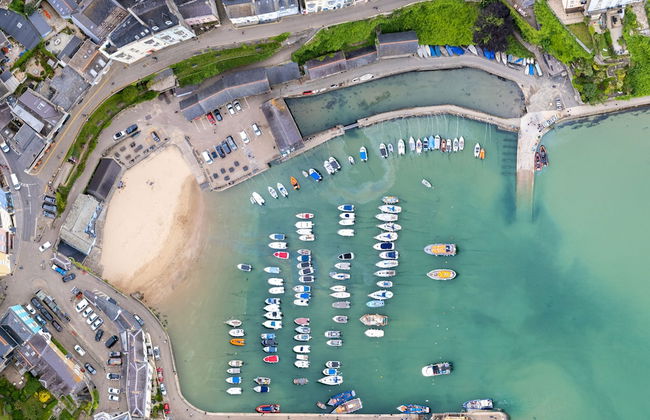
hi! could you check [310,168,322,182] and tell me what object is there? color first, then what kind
blue boat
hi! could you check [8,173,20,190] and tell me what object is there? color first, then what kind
white vehicle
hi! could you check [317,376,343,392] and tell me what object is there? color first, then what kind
white boat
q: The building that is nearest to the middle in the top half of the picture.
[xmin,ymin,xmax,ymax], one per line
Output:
[262,98,305,155]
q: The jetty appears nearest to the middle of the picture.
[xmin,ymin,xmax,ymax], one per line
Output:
[304,124,343,154]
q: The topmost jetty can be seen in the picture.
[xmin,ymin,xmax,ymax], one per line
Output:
[358,103,519,134]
